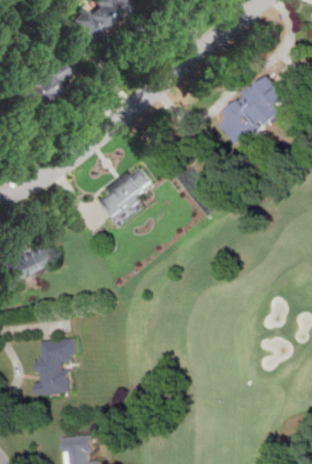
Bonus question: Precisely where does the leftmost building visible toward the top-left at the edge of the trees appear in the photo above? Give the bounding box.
[41,64,74,100]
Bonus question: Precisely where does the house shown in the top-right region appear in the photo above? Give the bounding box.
[217,81,279,139]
